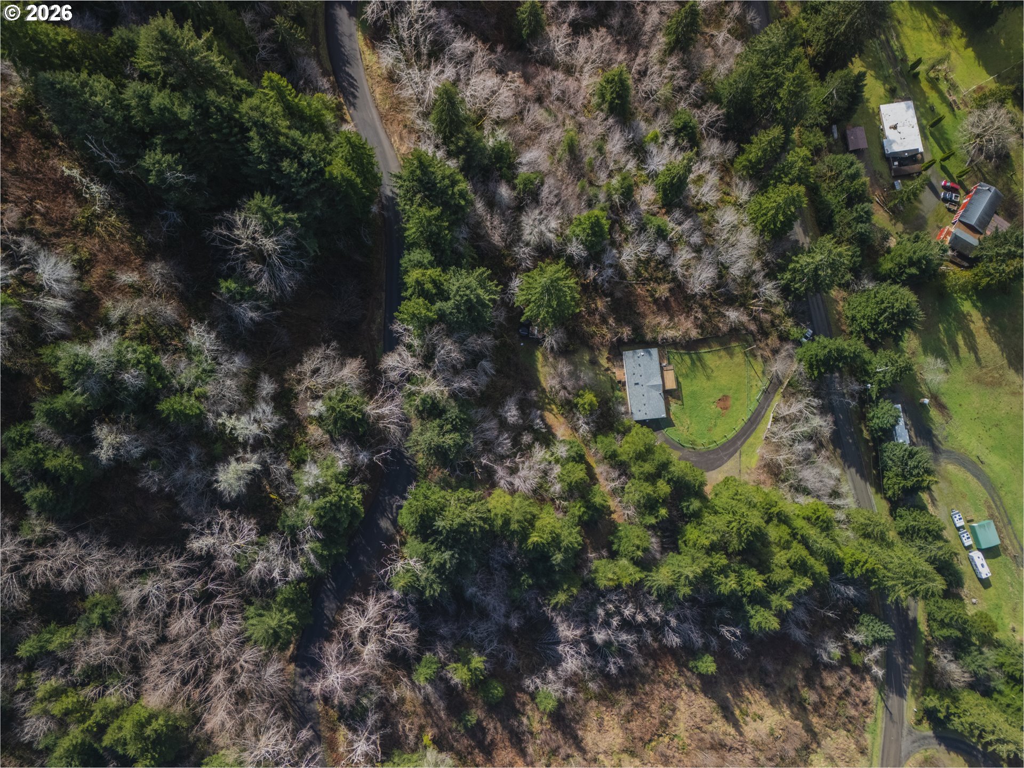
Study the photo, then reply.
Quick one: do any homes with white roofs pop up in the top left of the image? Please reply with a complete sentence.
No, I see no home with a white roof in the top left of the image.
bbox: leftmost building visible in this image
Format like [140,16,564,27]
[623,348,667,421]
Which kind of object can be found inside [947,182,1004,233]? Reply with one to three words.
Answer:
barn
